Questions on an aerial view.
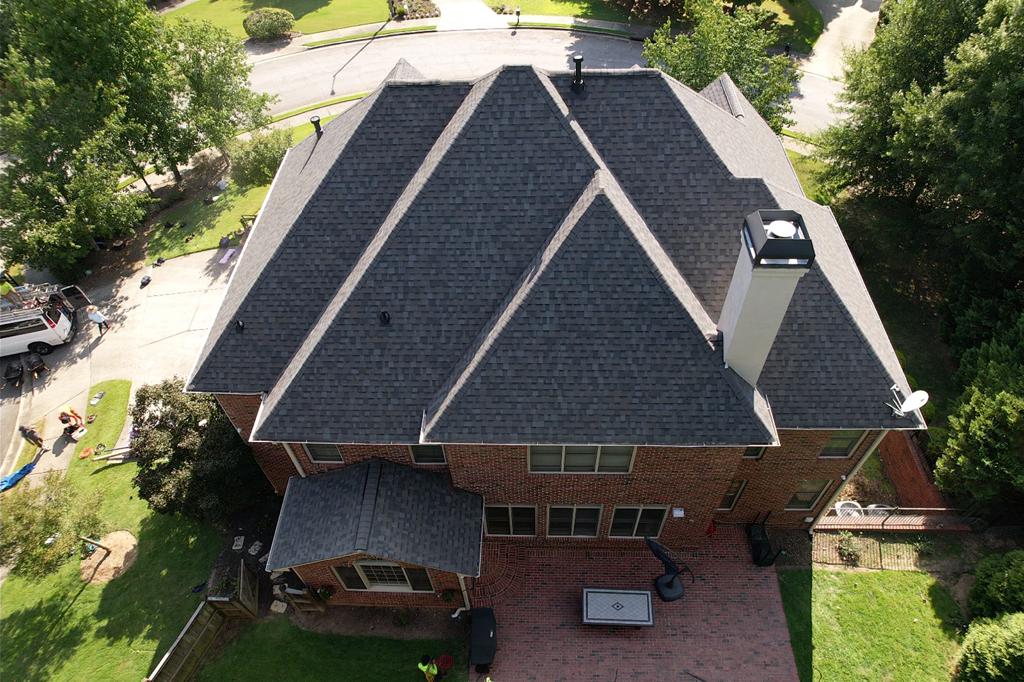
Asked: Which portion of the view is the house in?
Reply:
center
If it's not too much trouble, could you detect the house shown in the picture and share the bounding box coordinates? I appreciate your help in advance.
[185,56,930,621]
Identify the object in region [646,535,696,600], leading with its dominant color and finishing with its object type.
black umbrella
